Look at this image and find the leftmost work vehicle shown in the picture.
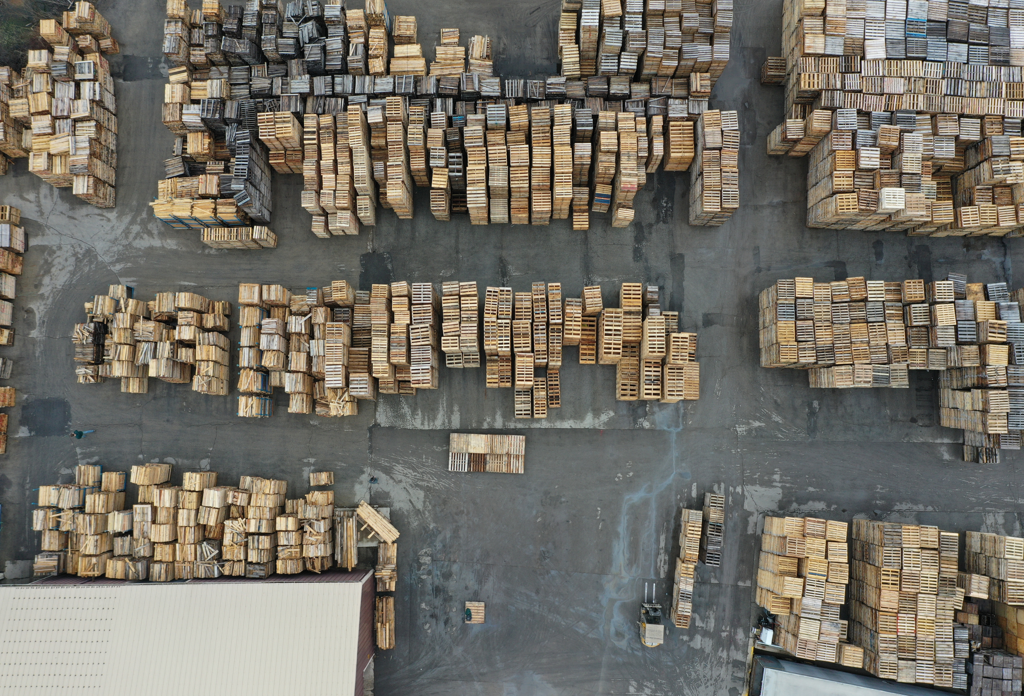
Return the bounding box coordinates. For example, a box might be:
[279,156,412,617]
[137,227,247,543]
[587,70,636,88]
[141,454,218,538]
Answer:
[637,578,665,649]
